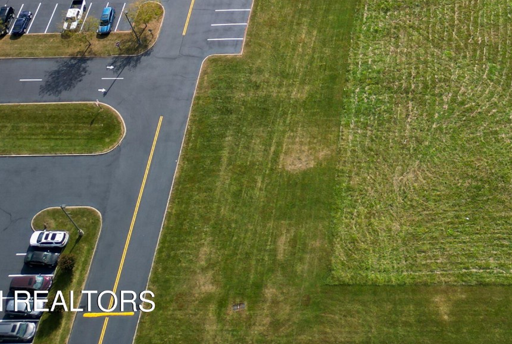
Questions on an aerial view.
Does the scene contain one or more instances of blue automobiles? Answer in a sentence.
Yes, looking at the shot, I can spot a blue automobile.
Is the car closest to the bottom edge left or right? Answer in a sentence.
The car closest to the bottom edge sits on the left side.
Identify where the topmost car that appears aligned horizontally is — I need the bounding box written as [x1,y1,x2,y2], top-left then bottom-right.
[30,230,69,249]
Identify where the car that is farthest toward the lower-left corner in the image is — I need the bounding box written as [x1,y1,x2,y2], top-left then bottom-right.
[0,320,35,342]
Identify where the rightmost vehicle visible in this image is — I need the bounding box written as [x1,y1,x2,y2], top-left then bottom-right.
[95,7,114,33]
